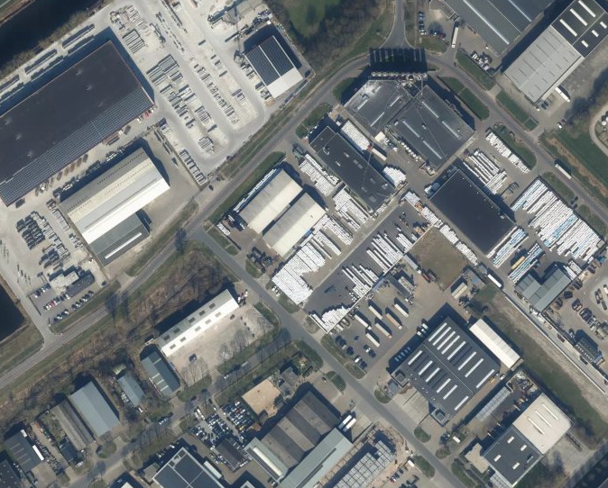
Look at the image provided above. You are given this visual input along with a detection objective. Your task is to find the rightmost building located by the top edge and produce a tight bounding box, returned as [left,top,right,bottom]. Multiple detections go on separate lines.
[550,0,608,57]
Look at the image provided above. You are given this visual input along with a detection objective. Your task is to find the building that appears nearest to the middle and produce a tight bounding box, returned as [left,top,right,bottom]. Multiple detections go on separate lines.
[263,194,325,257]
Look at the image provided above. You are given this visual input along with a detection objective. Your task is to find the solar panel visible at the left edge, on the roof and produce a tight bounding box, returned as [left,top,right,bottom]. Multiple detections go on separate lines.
[0,86,153,202]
